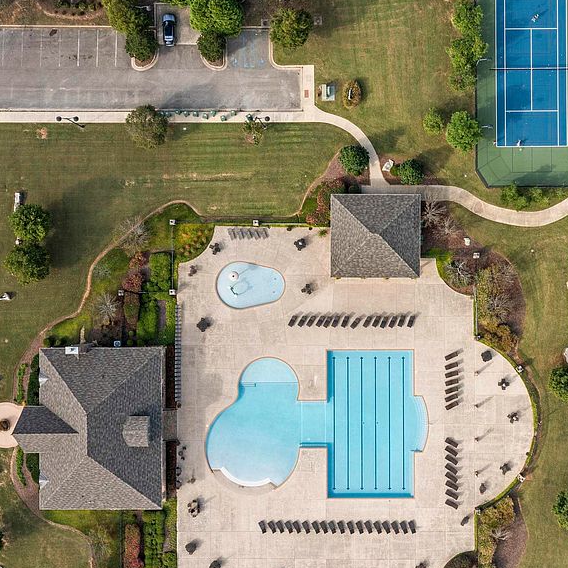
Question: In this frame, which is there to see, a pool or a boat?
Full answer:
I can see a pool in this picture.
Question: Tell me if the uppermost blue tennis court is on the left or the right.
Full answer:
The uppermost blue tennis court sits on the right side.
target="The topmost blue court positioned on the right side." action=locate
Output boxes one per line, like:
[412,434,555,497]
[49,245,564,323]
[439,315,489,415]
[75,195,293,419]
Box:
[496,0,568,147]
